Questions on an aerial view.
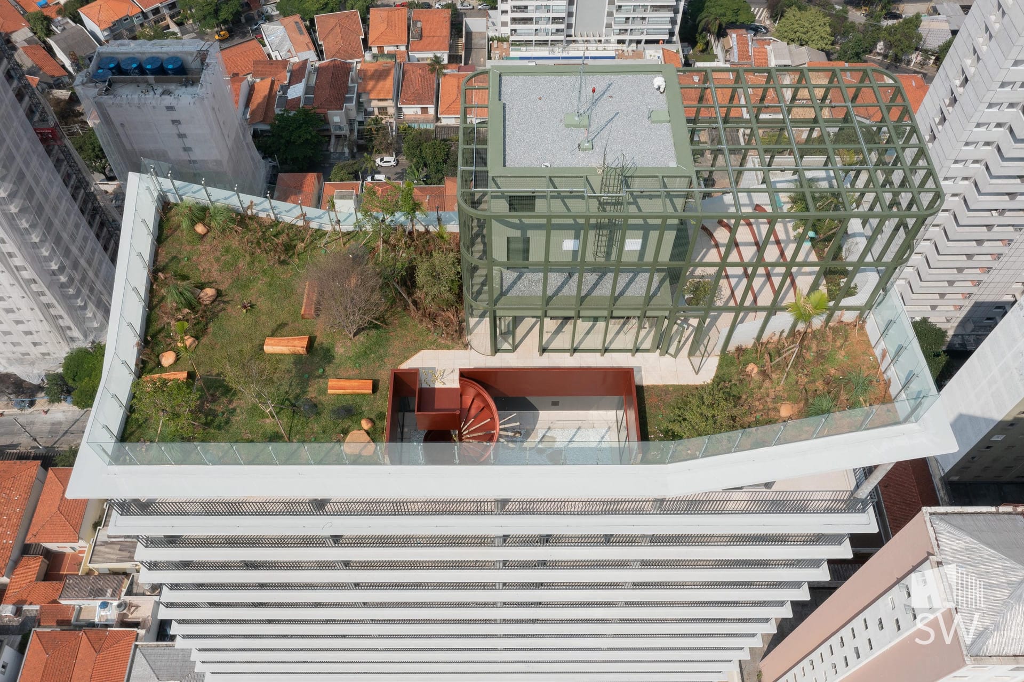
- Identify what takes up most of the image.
buildings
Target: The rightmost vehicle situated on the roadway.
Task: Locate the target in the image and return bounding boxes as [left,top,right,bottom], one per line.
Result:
[749,20,770,33]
